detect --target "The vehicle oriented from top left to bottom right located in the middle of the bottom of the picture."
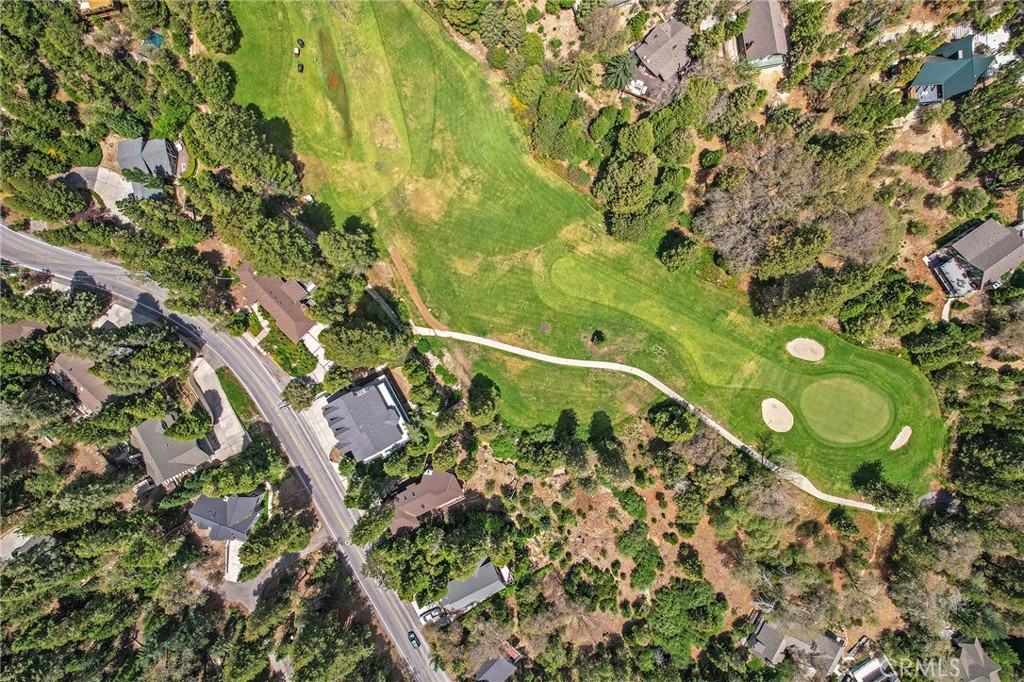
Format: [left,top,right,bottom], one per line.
[407,630,420,647]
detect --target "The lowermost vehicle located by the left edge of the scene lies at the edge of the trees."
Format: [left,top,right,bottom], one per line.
[10,544,24,562]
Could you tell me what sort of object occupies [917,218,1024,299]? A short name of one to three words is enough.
house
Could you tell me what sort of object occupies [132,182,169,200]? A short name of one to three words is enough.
building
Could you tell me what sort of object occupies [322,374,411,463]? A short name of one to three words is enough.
house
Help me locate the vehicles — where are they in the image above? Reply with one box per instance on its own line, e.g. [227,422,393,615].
[305,195,314,203]
[294,47,301,58]
[422,608,440,621]
[298,64,305,74]
[407,630,420,647]
[297,39,306,50]
[10,544,24,562]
